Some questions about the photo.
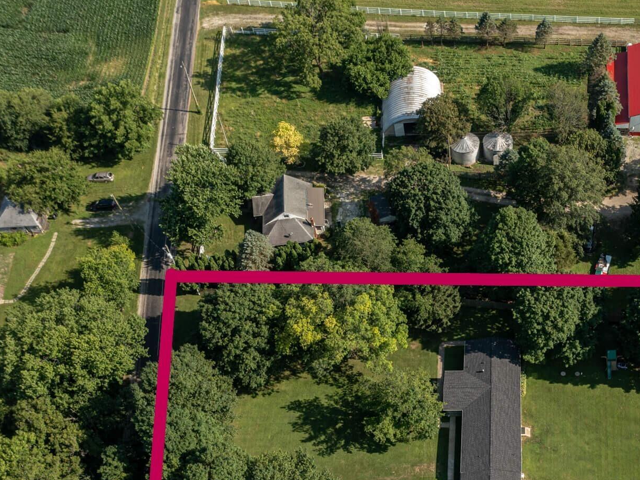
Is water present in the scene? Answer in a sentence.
No, there's no water in this view.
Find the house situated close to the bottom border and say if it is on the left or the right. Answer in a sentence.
It is on the right.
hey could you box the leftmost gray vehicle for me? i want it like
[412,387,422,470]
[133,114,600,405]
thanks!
[85,171,115,183]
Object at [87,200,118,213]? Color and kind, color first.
black vehicle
